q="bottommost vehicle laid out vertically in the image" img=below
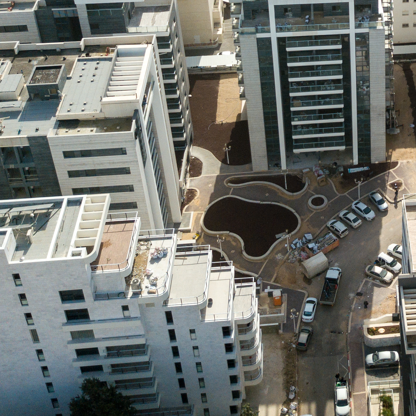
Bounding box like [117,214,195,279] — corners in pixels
[335,382,351,416]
